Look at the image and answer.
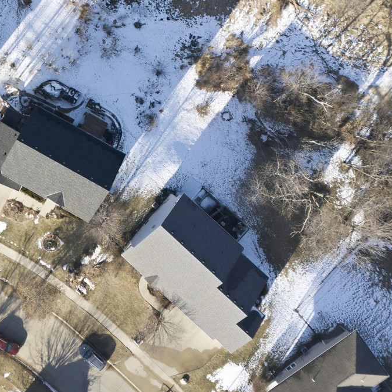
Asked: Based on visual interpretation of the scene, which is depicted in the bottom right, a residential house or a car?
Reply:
residential house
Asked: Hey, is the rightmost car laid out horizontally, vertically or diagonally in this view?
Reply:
diagonally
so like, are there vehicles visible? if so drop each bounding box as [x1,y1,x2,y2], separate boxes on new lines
[0,335,22,359]
[75,343,111,376]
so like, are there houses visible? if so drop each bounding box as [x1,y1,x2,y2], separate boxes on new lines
[262,327,390,392]
[0,105,126,222]
[121,193,269,354]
